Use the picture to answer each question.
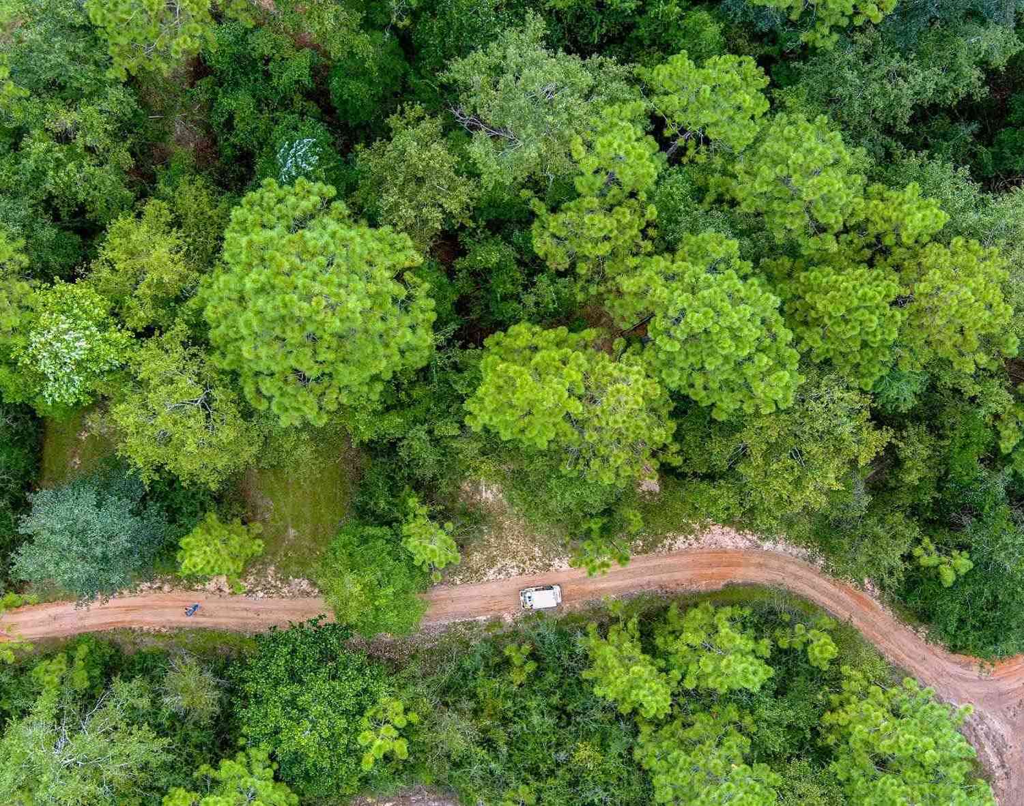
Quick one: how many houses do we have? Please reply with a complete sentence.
There are no houses in this view.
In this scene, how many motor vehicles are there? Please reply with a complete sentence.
The picture shows just 1 motor vehicle.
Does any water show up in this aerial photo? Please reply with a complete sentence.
No, no water is visible.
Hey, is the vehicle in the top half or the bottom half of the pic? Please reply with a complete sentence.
The bottom half of the photo is where the vehicle is.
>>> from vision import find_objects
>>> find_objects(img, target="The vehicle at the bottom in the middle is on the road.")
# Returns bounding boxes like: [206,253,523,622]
[520,582,561,609]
